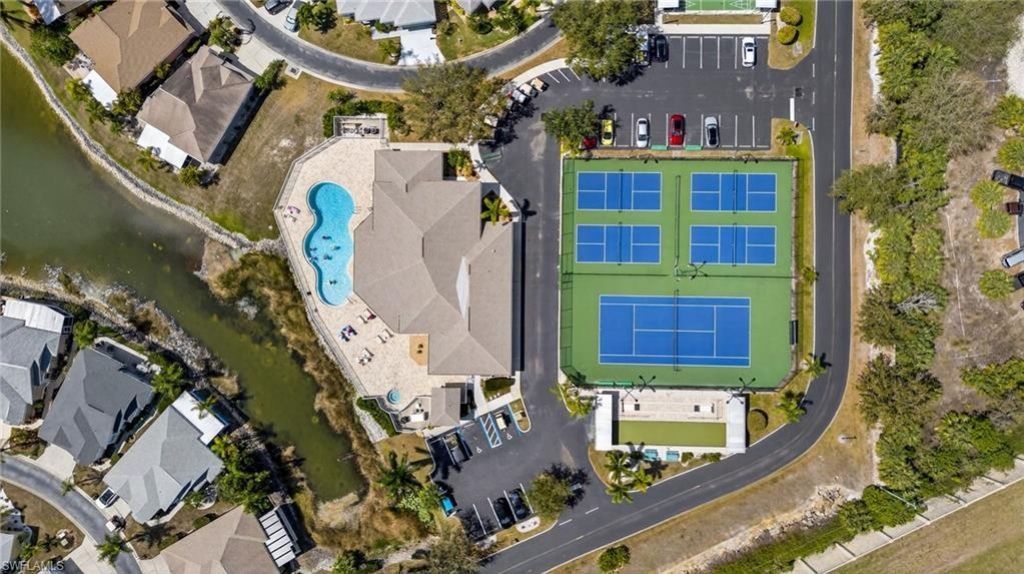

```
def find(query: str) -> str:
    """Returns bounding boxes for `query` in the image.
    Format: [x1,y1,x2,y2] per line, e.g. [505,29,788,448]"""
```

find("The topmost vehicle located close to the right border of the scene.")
[991,171,1024,191]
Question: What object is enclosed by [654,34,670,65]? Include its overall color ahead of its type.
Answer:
black car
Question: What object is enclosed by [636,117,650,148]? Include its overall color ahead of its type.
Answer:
white car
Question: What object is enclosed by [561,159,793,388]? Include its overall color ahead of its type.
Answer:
green sports court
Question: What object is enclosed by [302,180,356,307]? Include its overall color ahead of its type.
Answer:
blue swimming pool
